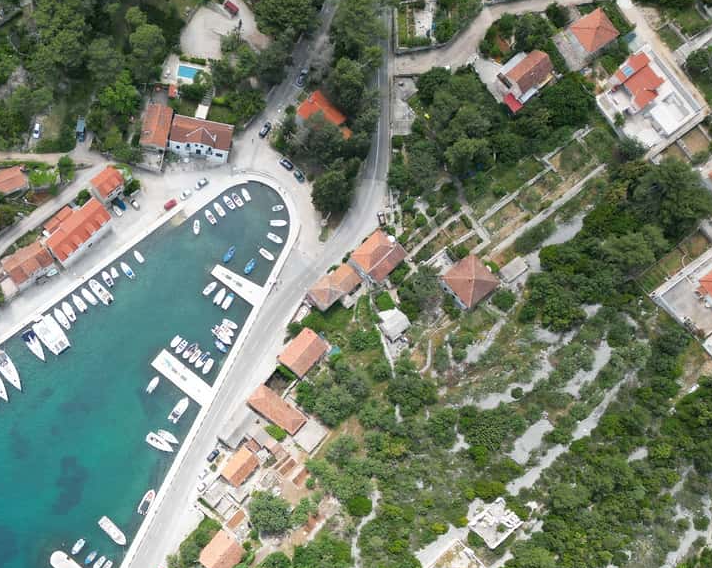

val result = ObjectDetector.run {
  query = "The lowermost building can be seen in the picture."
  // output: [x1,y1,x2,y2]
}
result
[199,530,243,568]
